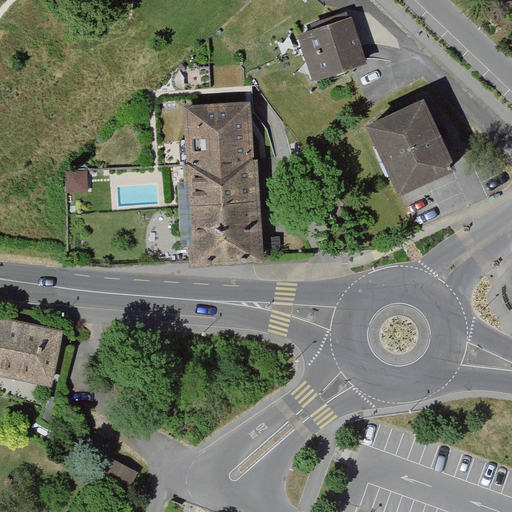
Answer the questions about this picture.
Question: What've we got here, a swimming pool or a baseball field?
swimming pool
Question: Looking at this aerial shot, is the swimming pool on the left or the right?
left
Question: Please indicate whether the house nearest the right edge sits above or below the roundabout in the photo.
above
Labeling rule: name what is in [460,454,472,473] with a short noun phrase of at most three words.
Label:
vehicle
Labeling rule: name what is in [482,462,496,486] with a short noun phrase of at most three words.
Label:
car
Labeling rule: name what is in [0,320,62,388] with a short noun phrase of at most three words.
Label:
house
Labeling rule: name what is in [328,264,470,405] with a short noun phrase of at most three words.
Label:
roundabout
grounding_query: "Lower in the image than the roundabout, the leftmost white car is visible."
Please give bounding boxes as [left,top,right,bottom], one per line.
[362,423,374,445]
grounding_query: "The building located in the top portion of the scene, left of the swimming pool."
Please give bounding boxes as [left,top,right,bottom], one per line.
[65,170,88,194]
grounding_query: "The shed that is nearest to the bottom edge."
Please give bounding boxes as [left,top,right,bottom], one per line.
[106,460,138,486]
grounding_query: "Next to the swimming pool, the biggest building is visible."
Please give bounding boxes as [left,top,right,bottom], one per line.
[178,102,264,268]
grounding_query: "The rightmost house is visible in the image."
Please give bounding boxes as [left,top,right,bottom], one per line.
[366,98,456,196]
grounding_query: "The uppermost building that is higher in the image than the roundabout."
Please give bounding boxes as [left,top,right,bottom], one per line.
[298,11,366,80]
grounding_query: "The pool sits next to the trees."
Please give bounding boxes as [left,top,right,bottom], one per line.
[110,170,164,210]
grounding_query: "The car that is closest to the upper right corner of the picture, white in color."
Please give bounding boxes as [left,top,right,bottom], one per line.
[361,69,382,84]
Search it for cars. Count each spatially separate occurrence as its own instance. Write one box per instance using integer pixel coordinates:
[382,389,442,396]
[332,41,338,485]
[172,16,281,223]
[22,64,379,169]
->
[482,462,496,486]
[495,466,508,486]
[416,208,439,224]
[460,454,472,473]
[38,277,56,287]
[486,173,510,190]
[434,446,449,472]
[196,306,216,316]
[362,423,374,445]
[407,198,426,214]
[361,69,382,84]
